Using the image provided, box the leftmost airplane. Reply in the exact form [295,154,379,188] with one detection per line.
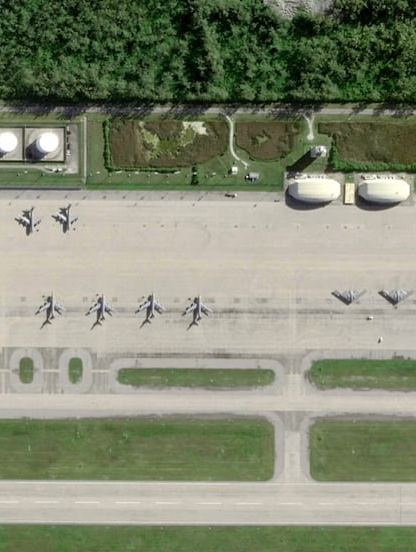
[18,206,47,233]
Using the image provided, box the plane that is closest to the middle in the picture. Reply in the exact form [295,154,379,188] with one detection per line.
[186,294,213,321]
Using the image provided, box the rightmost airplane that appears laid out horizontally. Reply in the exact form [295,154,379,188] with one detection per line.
[383,291,412,303]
